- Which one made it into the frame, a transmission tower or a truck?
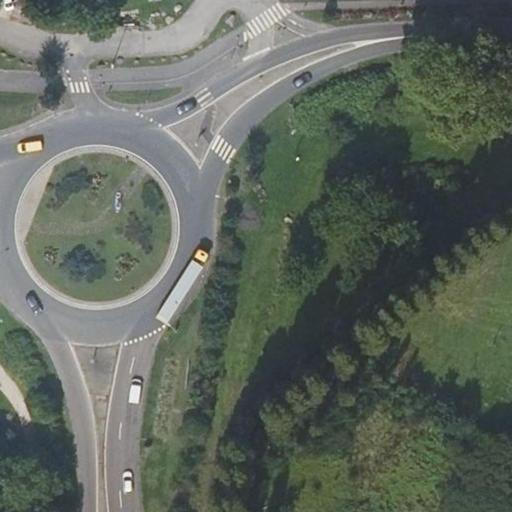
truck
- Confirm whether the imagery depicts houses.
No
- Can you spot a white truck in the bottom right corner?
No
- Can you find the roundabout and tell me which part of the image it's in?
left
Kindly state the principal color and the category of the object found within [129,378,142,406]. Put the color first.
white vehicle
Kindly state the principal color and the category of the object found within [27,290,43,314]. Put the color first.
gray car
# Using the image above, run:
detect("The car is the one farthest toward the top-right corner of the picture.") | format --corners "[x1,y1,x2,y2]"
[292,72,312,89]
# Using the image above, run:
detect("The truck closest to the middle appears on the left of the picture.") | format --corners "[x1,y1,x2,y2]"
[156,250,211,326]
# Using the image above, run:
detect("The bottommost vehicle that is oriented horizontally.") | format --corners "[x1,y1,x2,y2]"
[17,140,43,154]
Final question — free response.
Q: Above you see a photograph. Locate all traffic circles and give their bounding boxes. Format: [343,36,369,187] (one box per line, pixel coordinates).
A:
[0,112,214,344]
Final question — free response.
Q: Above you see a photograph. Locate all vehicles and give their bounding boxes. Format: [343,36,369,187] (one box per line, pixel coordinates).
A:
[27,290,43,314]
[156,250,211,326]
[292,72,312,89]
[176,97,198,114]
[122,470,134,494]
[129,378,142,406]
[17,140,43,154]
[4,0,14,12]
